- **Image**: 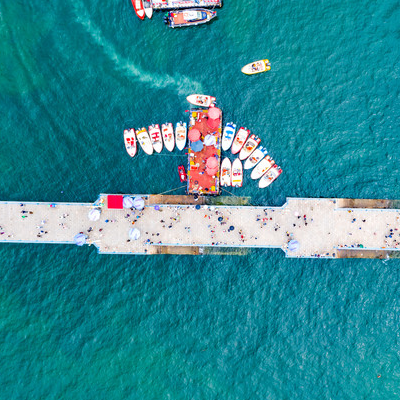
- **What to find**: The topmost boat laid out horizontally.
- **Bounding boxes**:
[167,7,218,28]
